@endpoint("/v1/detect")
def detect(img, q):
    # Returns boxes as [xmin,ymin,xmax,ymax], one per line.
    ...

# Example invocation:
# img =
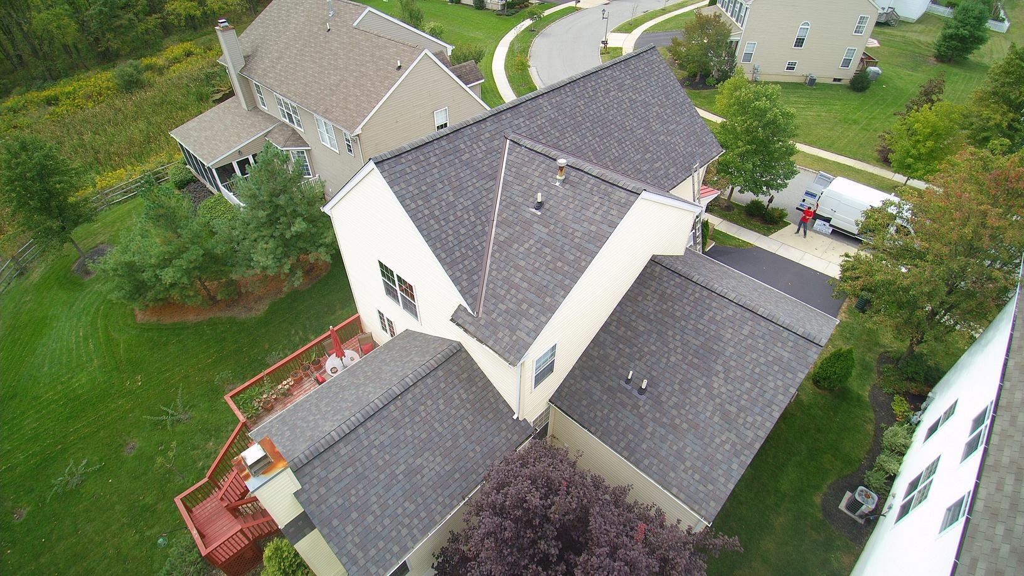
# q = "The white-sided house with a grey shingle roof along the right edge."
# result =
[856,253,1024,576]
